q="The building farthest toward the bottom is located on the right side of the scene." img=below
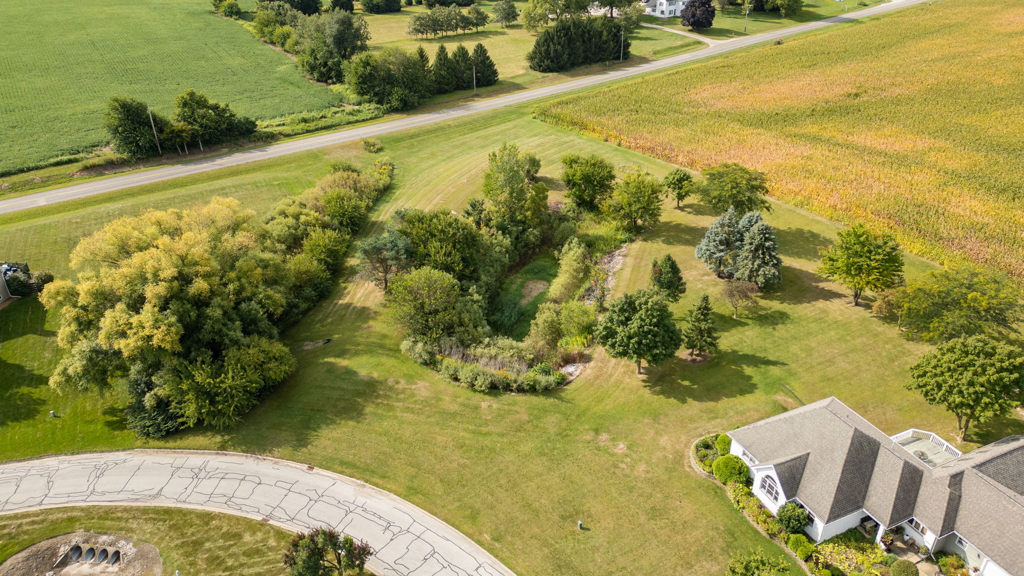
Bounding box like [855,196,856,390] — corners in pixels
[726,393,1024,576]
